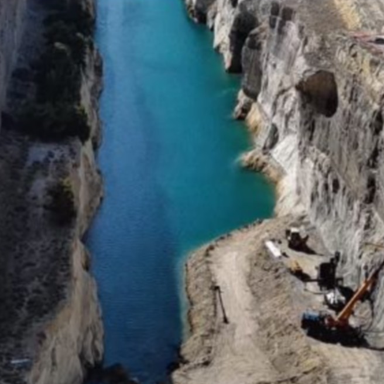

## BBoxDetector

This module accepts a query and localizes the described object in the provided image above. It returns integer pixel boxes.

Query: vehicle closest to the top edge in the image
[282,225,320,247]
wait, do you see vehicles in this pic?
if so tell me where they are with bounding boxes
[288,259,318,279]
[323,286,352,311]
[282,225,320,247]
[304,259,384,343]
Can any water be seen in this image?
Yes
